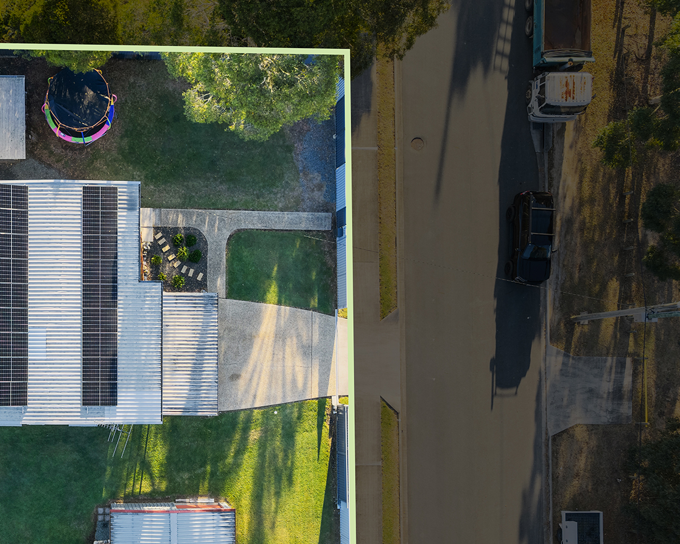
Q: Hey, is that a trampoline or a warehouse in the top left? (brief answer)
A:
trampoline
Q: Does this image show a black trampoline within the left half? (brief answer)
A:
Yes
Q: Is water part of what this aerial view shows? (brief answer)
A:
No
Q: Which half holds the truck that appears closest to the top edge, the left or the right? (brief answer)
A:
right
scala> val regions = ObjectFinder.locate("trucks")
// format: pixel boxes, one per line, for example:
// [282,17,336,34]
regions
[512,0,594,122]
[553,510,602,544]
